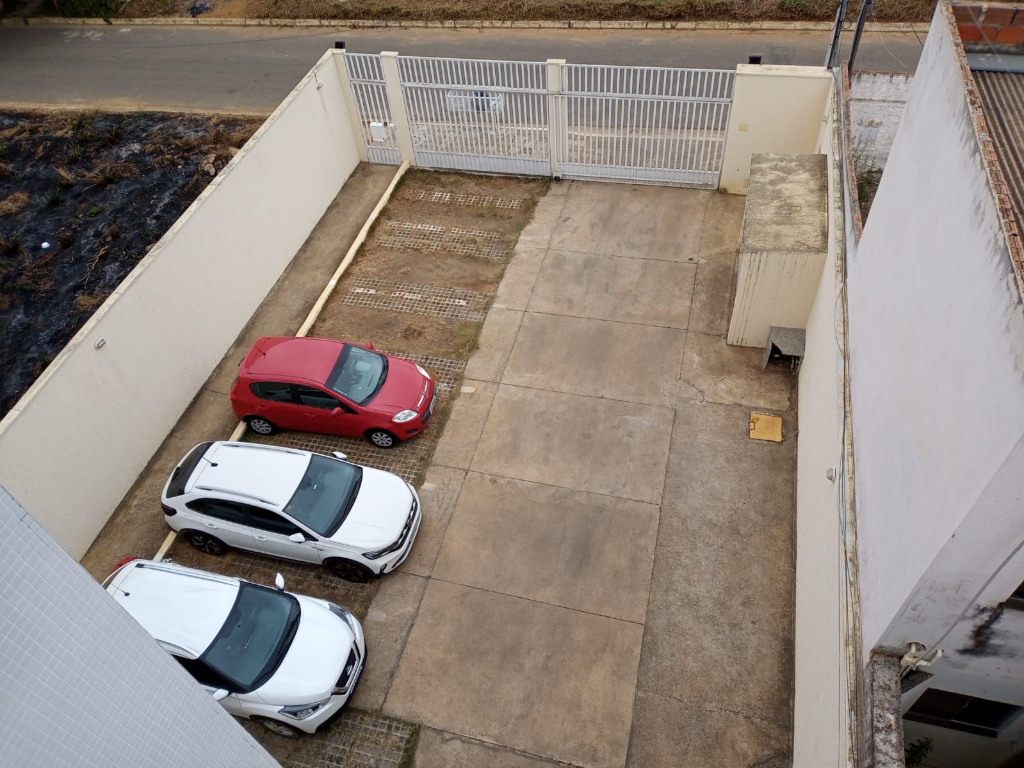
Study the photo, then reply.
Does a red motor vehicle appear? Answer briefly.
Yes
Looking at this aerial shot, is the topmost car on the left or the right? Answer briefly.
left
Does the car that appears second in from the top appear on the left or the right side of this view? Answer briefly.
left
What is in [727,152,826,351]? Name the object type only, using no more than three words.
shed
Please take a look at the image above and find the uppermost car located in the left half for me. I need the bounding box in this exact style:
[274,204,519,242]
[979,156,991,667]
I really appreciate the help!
[225,333,440,447]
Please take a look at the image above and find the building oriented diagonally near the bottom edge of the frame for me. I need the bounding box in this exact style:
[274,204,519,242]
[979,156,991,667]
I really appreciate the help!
[0,484,280,768]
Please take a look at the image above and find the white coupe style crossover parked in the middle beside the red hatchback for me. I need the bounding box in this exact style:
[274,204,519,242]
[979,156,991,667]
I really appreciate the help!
[160,439,420,582]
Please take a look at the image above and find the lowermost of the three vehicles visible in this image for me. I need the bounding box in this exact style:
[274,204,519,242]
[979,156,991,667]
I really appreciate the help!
[103,558,369,740]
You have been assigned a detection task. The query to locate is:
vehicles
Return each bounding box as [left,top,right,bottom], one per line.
[225,333,440,447]
[160,439,420,582]
[103,558,369,740]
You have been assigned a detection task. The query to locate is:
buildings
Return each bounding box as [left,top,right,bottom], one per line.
[727,152,826,351]
[0,484,280,768]
[846,6,1024,768]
